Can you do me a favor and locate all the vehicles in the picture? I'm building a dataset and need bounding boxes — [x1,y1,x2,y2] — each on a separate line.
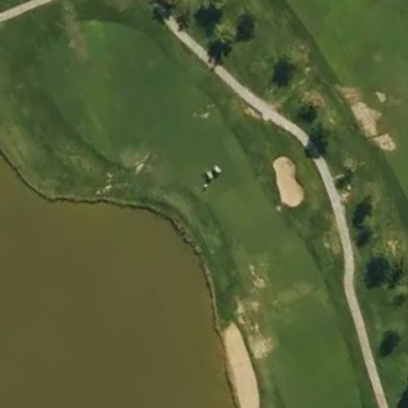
[213,164,222,174]
[206,170,214,180]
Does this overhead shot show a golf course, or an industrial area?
golf course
